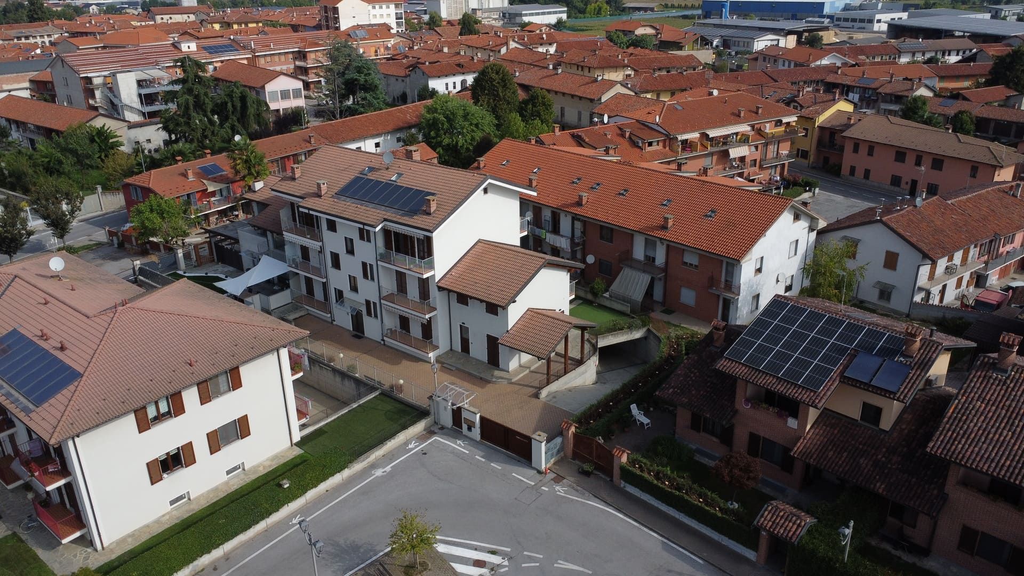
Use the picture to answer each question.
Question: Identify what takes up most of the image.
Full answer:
The largest share of the image is taken up by buildings.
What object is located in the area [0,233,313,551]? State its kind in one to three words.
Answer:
house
